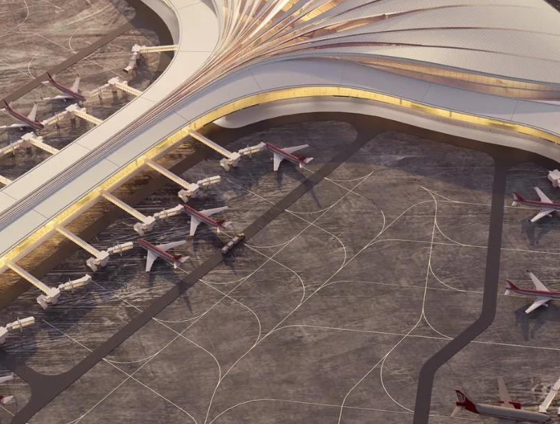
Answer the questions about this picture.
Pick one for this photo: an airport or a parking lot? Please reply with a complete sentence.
This image shows an airport.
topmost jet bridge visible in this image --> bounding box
[124,45,177,76]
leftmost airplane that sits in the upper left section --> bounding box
[0,89,42,126]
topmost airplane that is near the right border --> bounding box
[513,176,560,215]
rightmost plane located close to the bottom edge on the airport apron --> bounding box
[450,367,551,424]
